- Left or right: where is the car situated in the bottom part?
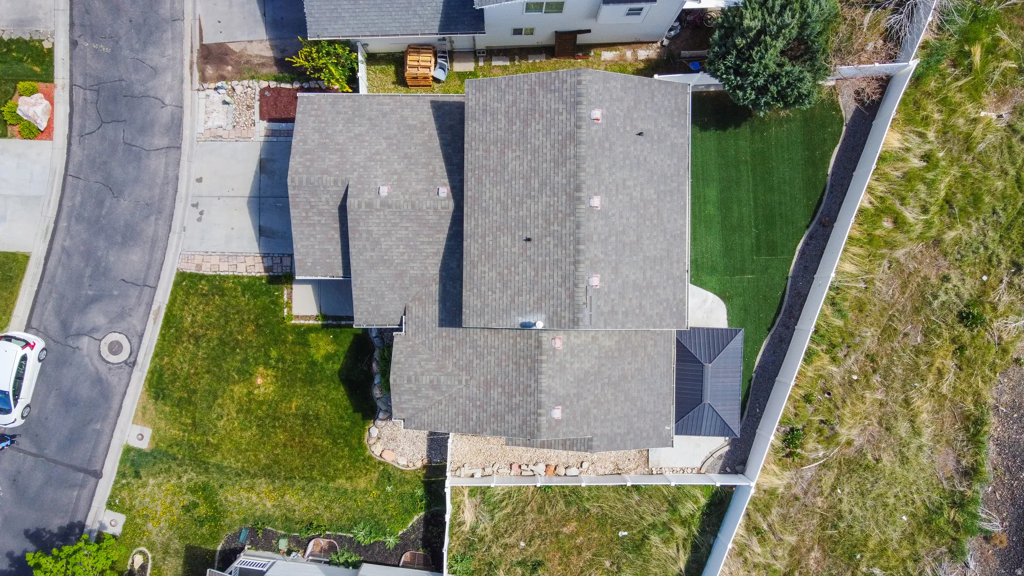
left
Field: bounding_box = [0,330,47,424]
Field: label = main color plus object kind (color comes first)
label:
white car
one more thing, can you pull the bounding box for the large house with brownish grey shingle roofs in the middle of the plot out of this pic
[285,68,694,454]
